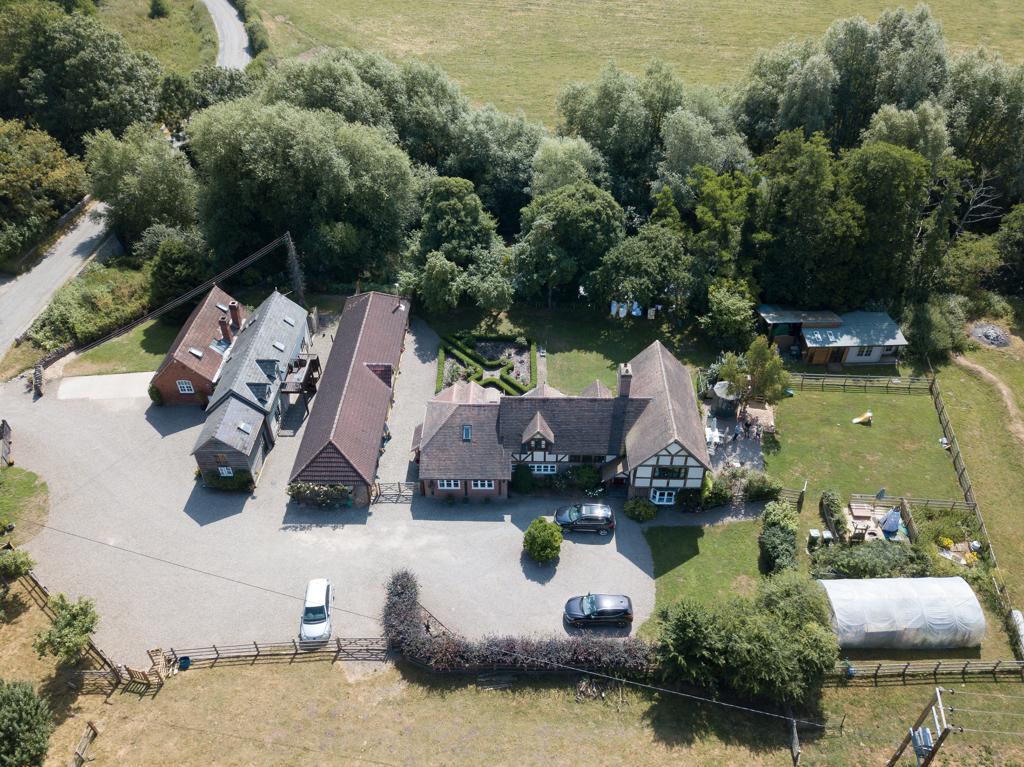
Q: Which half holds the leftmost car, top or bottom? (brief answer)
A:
bottom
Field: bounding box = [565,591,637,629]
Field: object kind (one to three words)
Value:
car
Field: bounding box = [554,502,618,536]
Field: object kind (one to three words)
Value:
car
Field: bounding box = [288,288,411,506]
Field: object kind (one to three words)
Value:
barn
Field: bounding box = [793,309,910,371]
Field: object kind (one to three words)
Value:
building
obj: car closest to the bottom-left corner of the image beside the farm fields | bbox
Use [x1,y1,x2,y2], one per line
[298,579,336,644]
